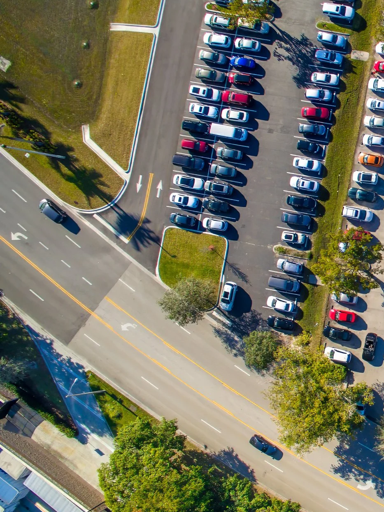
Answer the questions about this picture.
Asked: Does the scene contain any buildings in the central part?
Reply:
No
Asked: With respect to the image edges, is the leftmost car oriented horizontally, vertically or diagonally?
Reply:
diagonally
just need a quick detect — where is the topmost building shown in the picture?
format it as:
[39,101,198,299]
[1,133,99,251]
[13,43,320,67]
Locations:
[0,441,32,481]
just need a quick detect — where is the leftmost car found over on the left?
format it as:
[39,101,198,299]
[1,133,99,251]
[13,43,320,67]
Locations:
[41,197,68,226]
